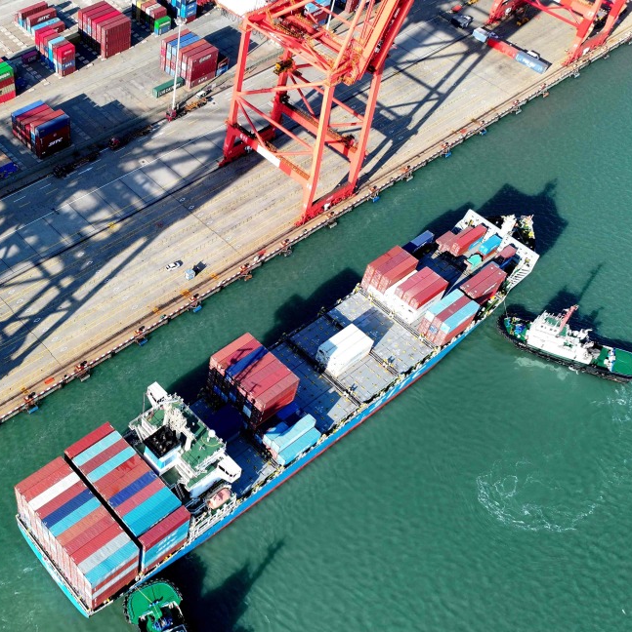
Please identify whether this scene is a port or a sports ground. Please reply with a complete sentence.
This image shows a port.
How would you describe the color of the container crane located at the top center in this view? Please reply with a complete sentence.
The container crane located at the top center looks red in the image.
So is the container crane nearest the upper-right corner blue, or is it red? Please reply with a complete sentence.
The container crane nearest the upper-right corner looks red in the image.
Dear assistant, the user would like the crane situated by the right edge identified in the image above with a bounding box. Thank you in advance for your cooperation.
[490,0,630,65]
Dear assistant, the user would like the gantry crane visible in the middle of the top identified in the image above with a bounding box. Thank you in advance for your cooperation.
[203,0,420,230]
